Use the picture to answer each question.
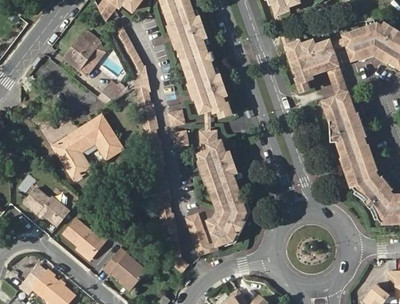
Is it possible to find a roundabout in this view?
Yes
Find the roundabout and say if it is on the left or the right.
right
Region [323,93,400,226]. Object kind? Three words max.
building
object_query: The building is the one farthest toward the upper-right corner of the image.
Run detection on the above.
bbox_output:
[340,22,400,72]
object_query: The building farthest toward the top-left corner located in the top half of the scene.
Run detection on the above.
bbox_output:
[61,26,106,74]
